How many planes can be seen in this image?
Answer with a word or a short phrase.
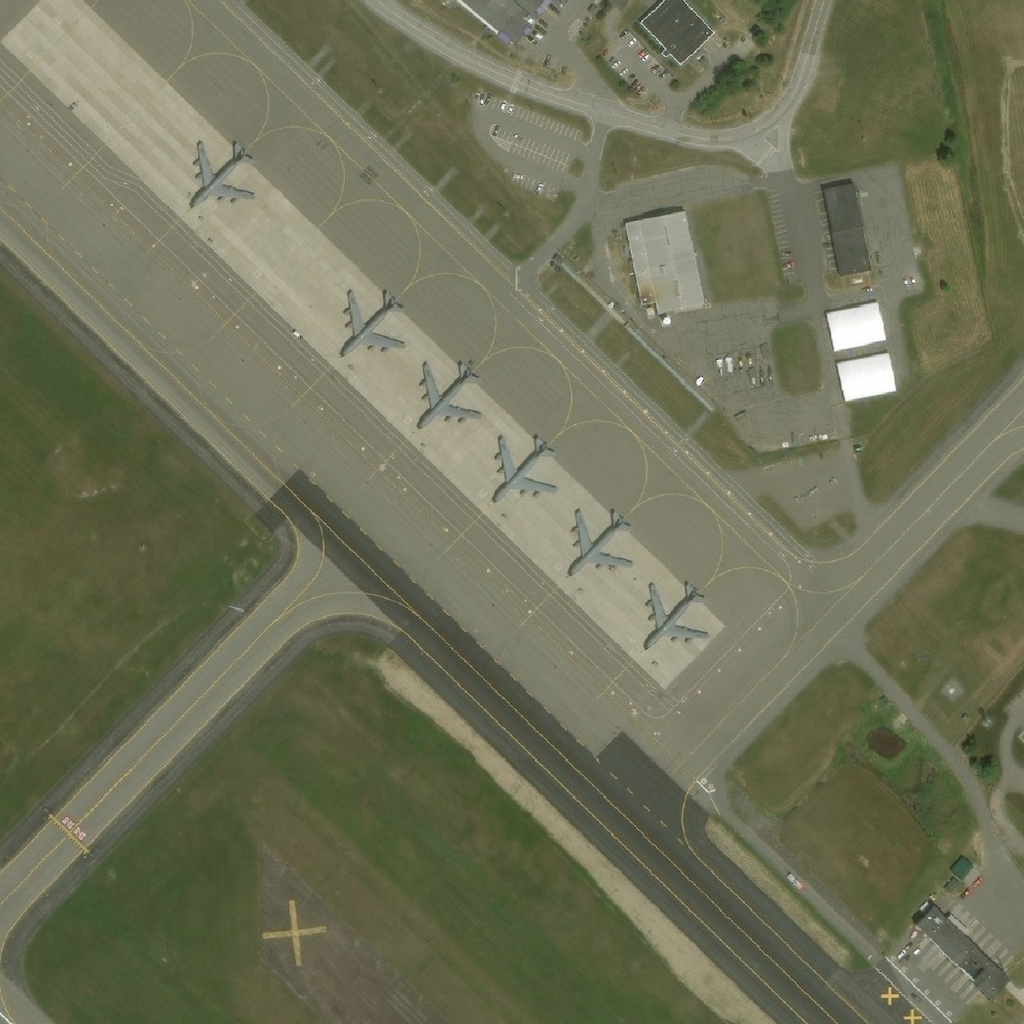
6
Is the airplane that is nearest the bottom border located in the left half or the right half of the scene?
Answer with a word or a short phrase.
right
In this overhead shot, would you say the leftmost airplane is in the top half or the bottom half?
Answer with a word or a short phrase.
top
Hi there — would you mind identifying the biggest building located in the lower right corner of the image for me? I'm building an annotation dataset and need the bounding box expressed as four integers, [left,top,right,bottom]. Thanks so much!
[916,903,1010,1002]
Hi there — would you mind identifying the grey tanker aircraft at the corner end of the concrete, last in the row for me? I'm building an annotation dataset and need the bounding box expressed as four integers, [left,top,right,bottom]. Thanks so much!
[646,583,711,649]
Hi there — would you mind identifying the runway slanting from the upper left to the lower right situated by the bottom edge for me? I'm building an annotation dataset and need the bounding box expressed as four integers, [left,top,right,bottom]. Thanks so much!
[260,843,454,1024]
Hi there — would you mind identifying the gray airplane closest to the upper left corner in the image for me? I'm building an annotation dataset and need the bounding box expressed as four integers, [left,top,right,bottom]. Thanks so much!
[191,141,256,206]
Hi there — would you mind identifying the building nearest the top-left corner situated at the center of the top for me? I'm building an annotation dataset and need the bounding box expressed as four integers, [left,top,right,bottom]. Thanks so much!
[457,0,556,45]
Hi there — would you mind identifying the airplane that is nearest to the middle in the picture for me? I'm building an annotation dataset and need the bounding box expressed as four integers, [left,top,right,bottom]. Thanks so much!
[493,436,558,501]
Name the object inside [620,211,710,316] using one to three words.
hangar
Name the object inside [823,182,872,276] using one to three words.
building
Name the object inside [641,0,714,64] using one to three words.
building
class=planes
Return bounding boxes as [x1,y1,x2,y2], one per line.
[646,583,711,649]
[493,436,558,501]
[191,141,256,206]
[418,362,483,428]
[569,510,634,575]
[342,291,406,356]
